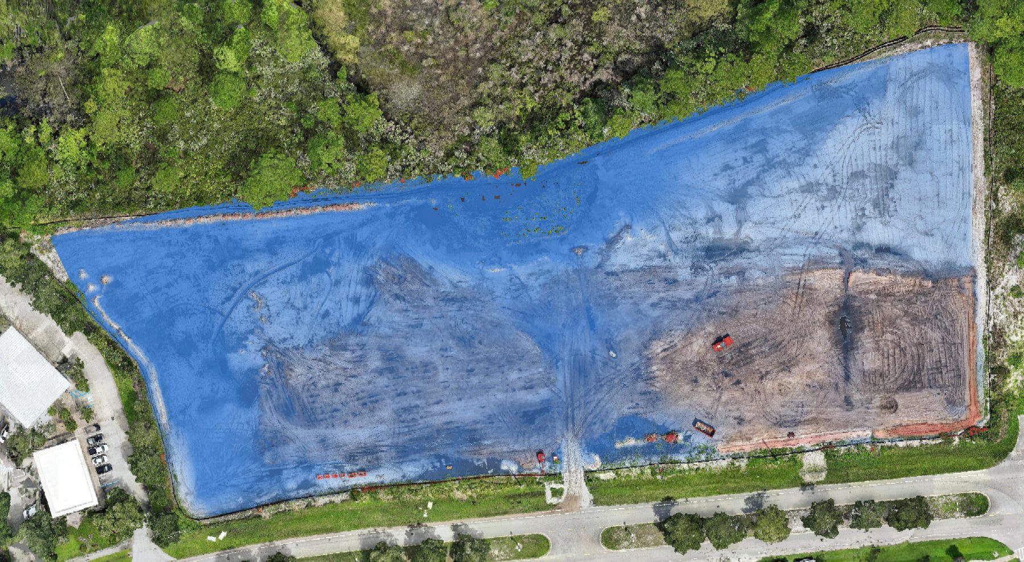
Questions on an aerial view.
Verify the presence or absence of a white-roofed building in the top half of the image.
No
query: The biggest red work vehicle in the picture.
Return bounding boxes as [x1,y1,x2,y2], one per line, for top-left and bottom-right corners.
[711,336,734,352]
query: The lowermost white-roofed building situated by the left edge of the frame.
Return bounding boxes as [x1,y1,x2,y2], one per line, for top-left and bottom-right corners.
[33,439,99,518]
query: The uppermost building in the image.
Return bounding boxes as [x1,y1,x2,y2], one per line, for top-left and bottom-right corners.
[0,325,70,428]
